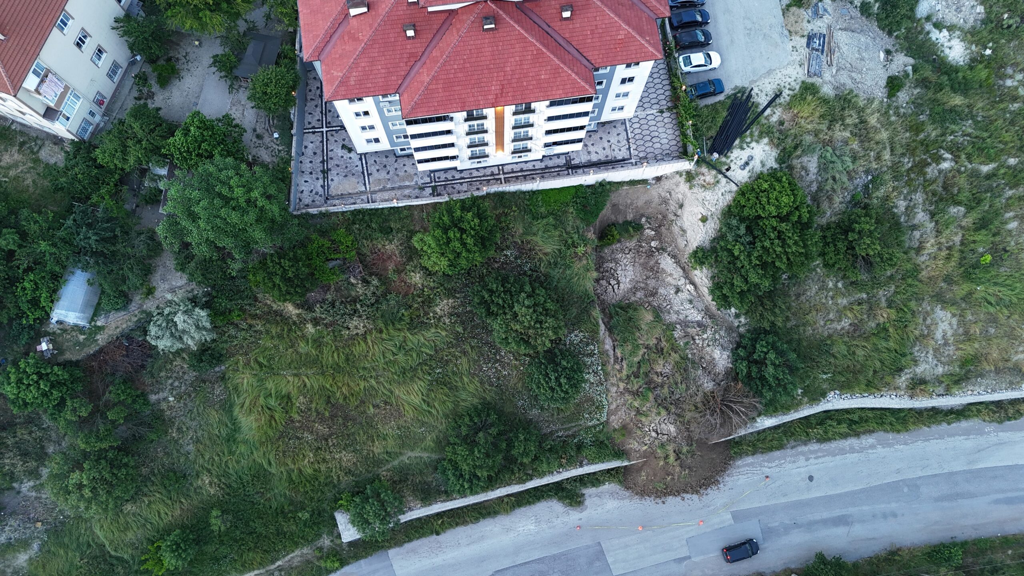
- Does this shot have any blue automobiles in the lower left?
No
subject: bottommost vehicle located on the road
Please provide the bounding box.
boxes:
[720,539,758,564]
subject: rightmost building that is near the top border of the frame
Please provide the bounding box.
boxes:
[298,0,671,181]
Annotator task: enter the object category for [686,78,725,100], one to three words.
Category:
car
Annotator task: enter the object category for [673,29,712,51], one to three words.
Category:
car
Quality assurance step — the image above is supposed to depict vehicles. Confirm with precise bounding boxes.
[673,29,712,51]
[669,8,710,31]
[686,78,725,100]
[667,0,707,13]
[677,51,721,75]
[720,539,758,564]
